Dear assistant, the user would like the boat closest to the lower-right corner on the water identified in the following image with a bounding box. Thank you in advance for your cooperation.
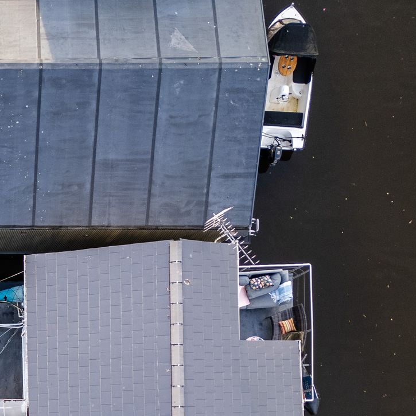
[305,367,318,415]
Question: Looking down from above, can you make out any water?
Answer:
Yes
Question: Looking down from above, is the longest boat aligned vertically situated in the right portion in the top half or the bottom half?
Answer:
top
